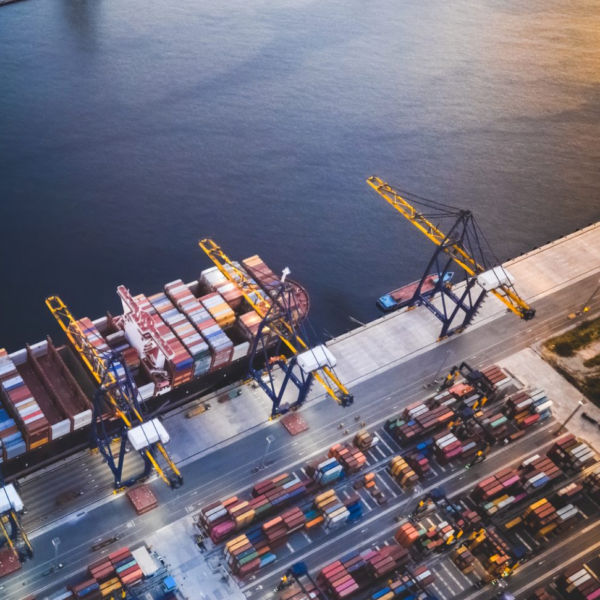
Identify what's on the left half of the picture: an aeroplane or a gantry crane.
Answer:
gantry crane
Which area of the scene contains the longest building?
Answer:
bottom left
